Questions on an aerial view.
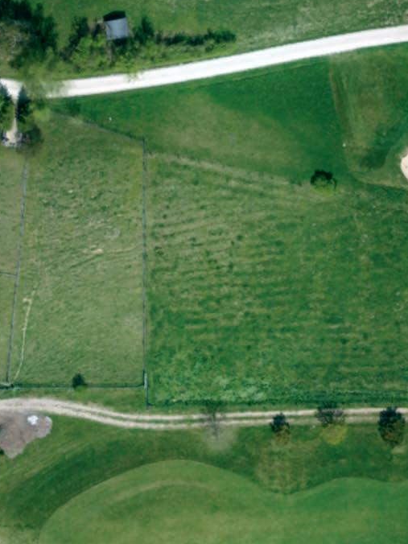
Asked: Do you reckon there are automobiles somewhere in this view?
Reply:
No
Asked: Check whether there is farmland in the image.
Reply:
Yes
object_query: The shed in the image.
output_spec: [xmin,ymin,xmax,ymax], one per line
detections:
[103,15,129,41]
